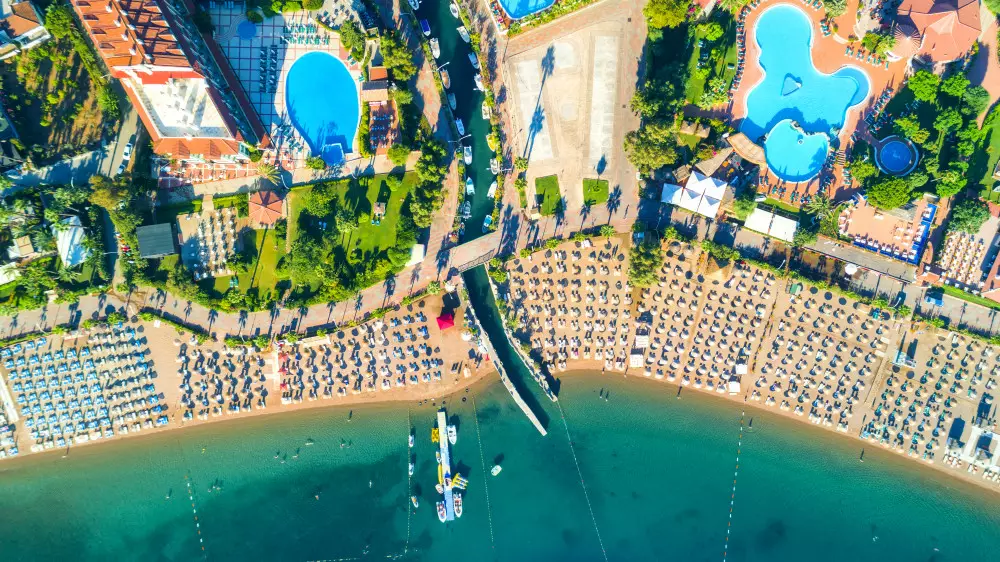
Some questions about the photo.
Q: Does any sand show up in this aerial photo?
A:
Yes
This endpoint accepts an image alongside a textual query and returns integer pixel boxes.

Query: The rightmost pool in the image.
[874,134,919,177]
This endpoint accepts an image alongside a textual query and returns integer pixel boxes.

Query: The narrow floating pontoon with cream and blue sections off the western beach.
[437,411,457,520]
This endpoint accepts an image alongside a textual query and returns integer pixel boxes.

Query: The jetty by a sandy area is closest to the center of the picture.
[460,272,547,436]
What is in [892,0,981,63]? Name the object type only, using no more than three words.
building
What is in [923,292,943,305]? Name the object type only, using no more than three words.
vehicle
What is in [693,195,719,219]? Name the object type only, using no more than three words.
tent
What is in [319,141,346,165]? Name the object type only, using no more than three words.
swimming pool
